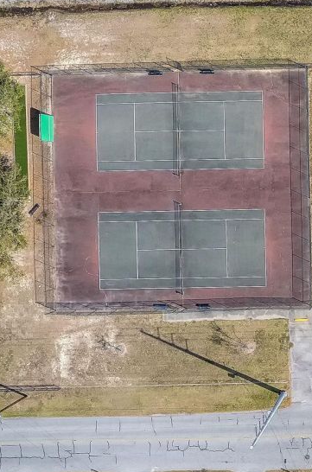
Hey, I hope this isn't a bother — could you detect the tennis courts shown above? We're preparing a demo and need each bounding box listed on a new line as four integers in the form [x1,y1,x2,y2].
[54,189,312,311]
[53,68,311,192]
